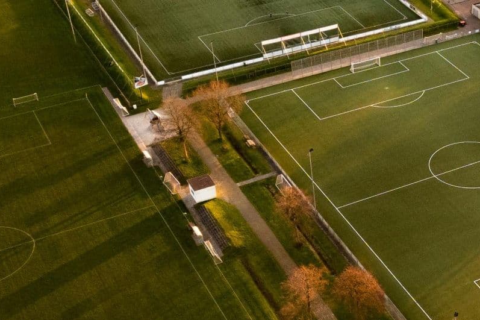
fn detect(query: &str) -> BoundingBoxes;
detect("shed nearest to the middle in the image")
[185,172,217,202]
